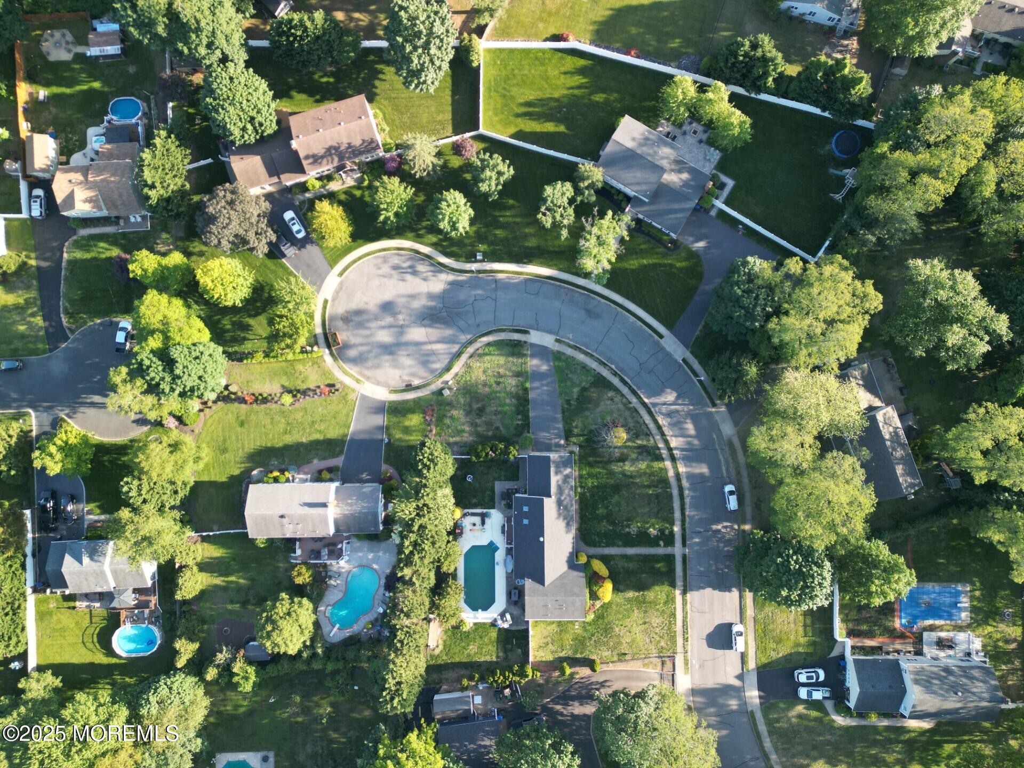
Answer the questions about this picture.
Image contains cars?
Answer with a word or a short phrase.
Yes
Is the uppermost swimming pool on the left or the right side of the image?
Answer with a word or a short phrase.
left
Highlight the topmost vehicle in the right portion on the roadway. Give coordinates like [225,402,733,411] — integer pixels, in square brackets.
[722,483,739,512]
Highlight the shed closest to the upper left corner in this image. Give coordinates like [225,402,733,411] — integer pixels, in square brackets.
[86,31,127,62]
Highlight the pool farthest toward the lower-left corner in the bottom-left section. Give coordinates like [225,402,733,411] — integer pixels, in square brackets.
[113,622,164,657]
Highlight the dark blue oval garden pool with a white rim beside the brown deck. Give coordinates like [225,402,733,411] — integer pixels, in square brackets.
[107,96,147,123]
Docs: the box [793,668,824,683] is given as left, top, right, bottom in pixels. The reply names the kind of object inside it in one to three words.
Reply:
car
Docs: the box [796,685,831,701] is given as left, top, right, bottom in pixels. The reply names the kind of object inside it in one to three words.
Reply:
vehicle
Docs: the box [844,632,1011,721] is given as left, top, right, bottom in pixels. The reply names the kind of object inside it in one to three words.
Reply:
house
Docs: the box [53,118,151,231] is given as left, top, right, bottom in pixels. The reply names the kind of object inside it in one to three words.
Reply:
house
